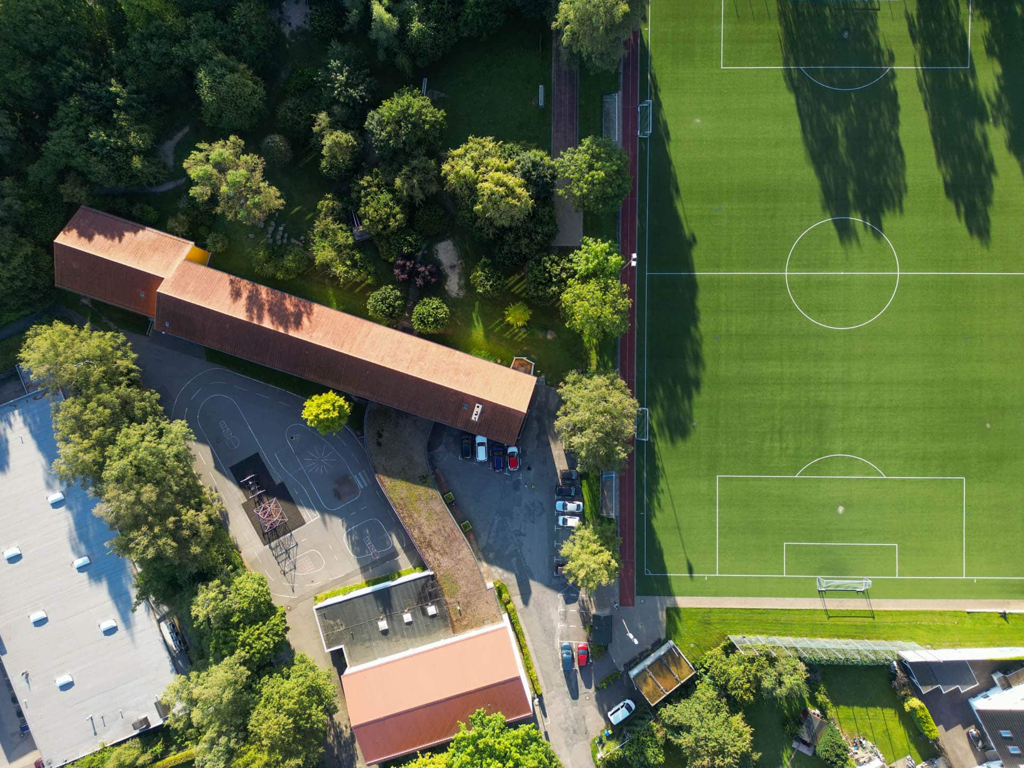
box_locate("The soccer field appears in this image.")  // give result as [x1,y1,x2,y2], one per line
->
[636,0,1024,598]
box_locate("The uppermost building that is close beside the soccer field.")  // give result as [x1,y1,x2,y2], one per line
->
[154,259,537,446]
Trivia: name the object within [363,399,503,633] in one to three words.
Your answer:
building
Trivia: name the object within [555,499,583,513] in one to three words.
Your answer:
car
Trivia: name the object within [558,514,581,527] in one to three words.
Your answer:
vehicle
